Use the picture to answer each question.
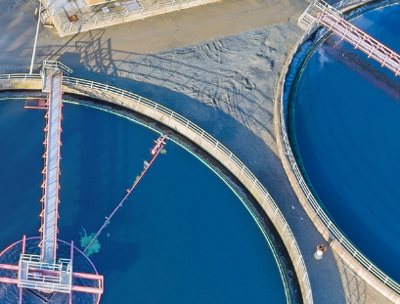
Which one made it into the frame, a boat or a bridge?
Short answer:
bridge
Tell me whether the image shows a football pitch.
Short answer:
No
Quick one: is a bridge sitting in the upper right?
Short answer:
Yes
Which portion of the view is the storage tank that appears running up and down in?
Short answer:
right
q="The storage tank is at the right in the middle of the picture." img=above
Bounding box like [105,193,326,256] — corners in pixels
[274,0,400,304]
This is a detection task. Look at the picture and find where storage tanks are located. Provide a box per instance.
[0,56,314,304]
[274,0,400,304]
